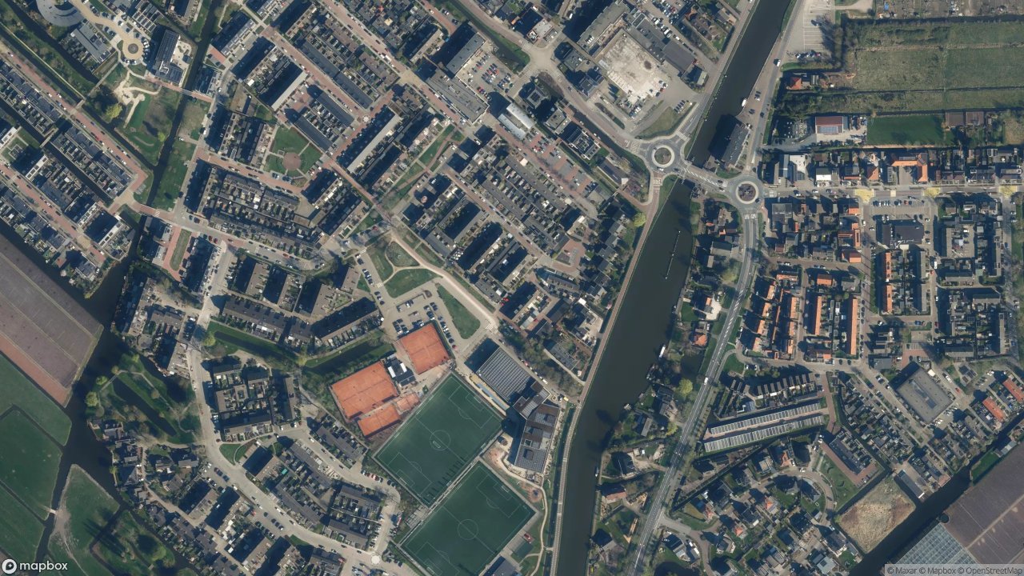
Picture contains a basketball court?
No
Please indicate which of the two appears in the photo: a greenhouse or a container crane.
greenhouse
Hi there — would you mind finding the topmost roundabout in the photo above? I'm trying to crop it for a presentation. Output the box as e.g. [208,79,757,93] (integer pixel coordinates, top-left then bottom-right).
[645,138,681,174]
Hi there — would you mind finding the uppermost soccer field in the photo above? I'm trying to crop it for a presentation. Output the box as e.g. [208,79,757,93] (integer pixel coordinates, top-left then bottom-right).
[373,369,507,508]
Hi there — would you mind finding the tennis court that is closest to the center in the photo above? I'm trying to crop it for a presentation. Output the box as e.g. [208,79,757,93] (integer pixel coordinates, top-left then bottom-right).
[400,323,451,374]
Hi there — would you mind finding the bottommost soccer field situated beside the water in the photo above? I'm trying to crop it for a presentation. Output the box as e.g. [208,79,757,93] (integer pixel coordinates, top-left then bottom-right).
[401,461,535,576]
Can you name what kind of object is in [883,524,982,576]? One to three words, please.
greenhouse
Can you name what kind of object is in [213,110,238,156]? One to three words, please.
building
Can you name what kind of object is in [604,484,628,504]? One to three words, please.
house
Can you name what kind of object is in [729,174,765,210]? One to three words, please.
roundabout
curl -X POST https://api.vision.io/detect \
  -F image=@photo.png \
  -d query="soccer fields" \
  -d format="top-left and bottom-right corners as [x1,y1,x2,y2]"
[373,369,507,508]
[401,461,535,576]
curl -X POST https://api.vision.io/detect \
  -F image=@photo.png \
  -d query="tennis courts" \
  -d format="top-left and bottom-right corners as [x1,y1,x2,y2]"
[359,405,401,436]
[400,323,451,374]
[395,391,420,411]
[331,361,400,418]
